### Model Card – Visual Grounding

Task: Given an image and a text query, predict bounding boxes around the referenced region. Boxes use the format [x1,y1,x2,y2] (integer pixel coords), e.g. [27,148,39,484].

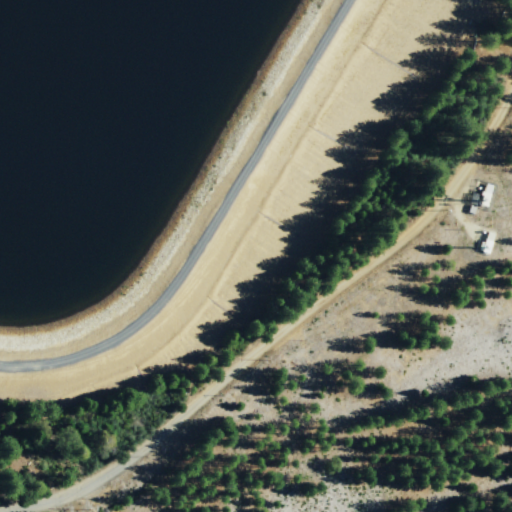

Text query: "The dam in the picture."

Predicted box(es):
[0,0,462,418]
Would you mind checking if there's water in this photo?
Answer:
Yes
